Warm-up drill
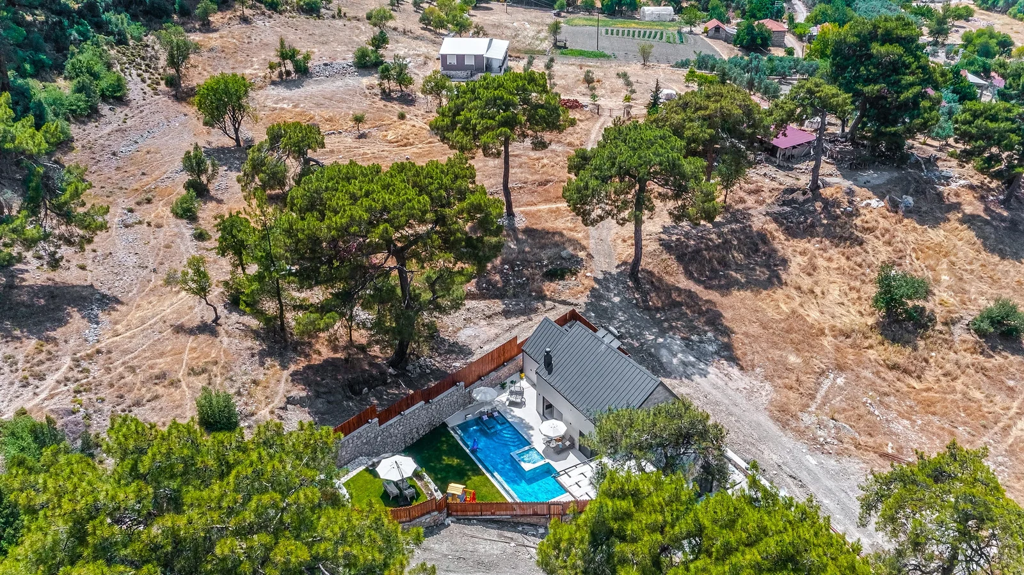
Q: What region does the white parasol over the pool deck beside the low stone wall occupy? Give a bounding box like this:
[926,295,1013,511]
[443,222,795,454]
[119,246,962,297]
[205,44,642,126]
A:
[473,384,496,408]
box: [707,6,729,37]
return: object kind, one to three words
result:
house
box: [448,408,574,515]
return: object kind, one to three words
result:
swimming pool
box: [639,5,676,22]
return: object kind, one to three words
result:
greenhouse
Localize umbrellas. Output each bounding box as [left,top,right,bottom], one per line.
[473,384,496,408]
[374,456,420,509]
[540,425,568,453]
